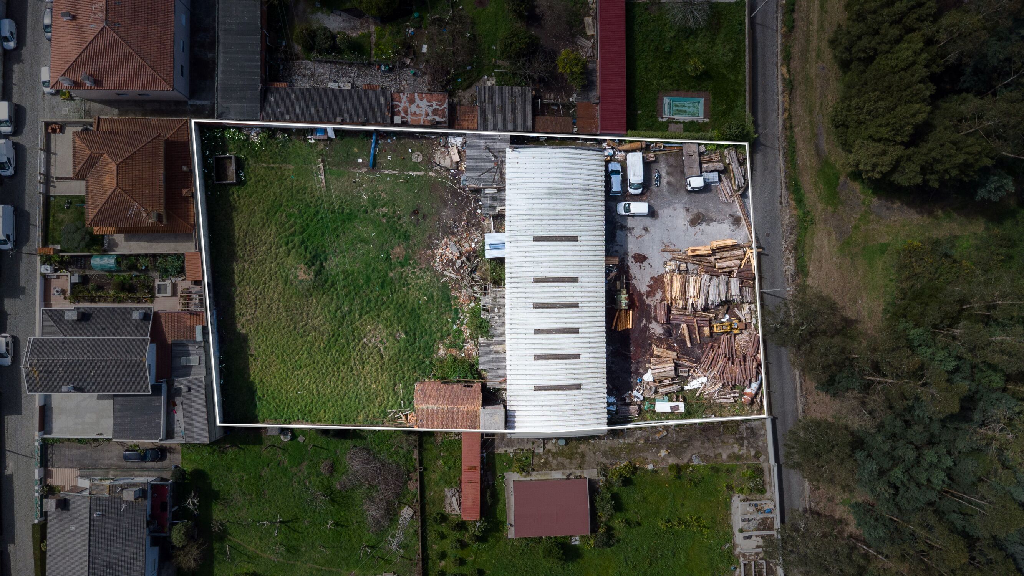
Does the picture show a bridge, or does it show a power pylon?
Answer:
power pylon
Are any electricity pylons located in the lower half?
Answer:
Yes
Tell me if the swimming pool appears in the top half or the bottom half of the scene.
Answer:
top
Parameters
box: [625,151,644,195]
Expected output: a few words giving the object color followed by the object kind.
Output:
white vehicle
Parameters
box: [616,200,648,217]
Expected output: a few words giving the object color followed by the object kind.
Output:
white vehicle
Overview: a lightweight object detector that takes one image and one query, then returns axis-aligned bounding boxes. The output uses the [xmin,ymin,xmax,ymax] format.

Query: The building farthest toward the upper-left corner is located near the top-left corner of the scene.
[49,0,191,99]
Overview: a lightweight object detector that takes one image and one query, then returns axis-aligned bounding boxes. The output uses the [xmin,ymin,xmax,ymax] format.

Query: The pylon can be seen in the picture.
[375,501,417,557]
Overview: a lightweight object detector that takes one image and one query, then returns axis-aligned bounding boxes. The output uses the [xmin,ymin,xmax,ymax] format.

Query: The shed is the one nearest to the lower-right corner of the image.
[513,475,590,538]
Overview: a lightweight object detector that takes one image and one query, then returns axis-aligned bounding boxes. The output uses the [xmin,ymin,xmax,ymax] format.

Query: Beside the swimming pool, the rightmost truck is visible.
[682,139,706,193]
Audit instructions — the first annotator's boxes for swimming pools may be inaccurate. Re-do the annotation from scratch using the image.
[662,96,704,119]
